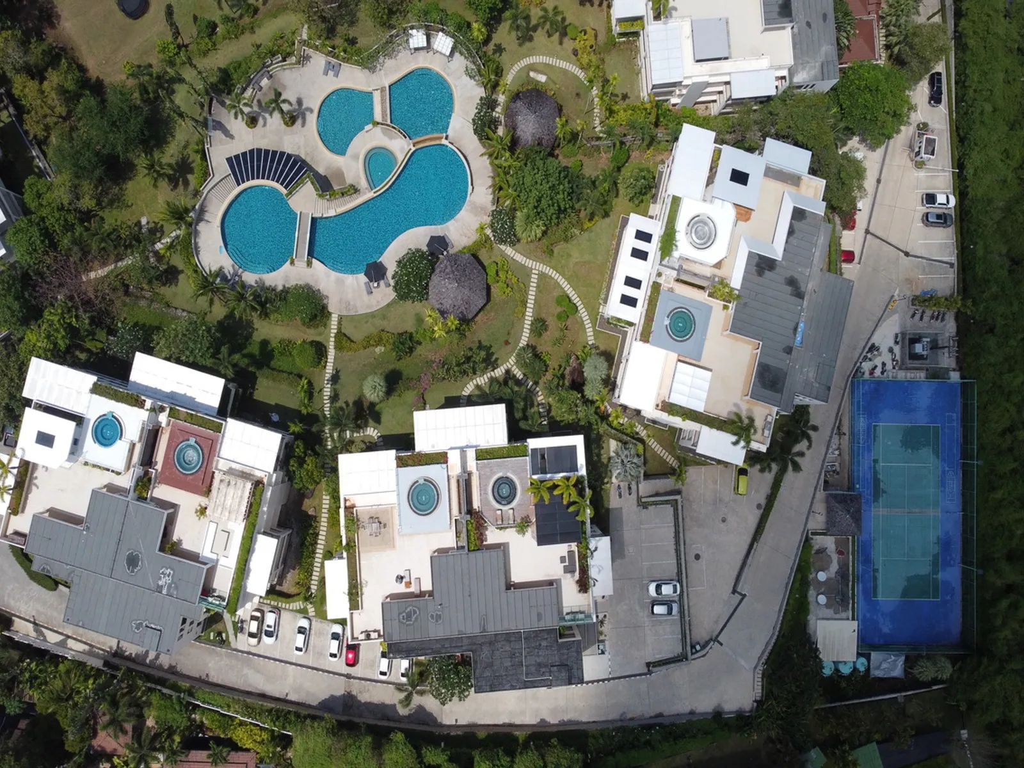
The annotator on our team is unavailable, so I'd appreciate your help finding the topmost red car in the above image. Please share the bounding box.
[832,214,859,229]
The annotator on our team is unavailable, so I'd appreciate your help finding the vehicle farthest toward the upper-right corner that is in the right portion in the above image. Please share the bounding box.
[929,67,948,106]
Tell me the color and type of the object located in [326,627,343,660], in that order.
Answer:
white car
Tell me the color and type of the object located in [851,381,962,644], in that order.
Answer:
blue tennis court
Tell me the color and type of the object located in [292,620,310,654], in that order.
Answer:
white car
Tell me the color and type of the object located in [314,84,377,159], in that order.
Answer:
blue swimming pool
